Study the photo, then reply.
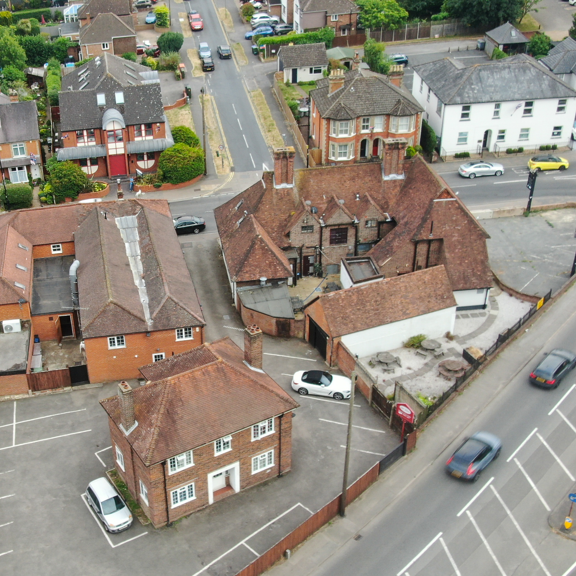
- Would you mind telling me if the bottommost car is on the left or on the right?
left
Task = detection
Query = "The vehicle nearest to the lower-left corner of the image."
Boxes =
[84,474,132,533]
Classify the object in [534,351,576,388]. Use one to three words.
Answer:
car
